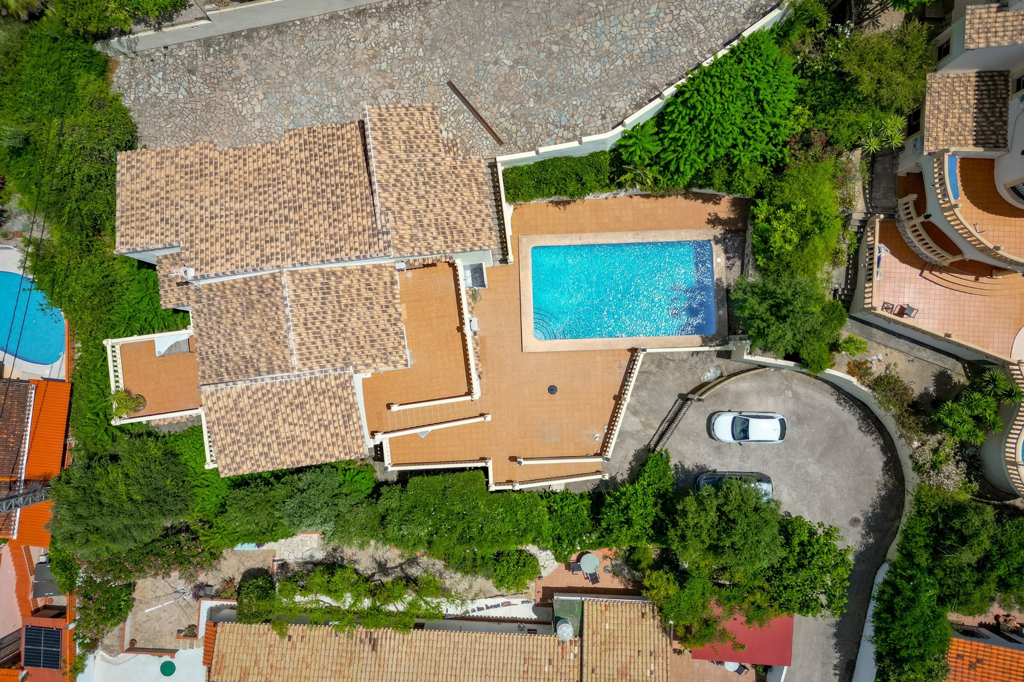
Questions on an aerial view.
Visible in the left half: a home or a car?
home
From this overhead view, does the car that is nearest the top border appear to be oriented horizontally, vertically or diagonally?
horizontally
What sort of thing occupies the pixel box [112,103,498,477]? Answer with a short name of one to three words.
house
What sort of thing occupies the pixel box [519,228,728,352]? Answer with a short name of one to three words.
swimming pool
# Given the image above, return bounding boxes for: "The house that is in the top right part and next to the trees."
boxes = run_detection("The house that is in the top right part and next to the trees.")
[883,3,1024,271]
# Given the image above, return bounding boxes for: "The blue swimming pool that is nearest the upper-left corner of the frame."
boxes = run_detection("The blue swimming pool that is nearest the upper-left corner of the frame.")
[0,244,71,383]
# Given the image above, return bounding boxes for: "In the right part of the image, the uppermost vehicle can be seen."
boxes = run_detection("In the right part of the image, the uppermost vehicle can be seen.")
[710,408,788,447]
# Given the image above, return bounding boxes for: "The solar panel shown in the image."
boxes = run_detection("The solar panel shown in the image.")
[23,621,62,669]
